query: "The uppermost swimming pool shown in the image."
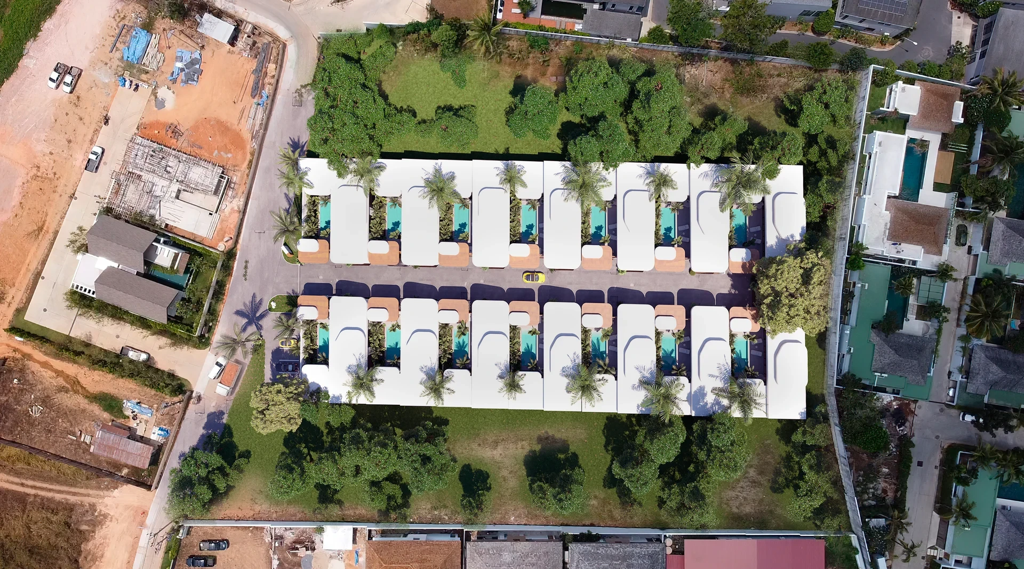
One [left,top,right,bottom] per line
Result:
[539,0,591,21]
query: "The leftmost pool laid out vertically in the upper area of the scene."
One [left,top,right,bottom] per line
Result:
[318,199,330,242]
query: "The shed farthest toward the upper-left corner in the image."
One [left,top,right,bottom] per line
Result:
[195,13,239,46]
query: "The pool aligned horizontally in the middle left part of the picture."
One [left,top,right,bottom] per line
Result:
[140,268,189,291]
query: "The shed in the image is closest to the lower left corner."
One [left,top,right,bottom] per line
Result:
[91,422,159,469]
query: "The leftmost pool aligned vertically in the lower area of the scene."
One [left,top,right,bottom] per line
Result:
[316,323,329,363]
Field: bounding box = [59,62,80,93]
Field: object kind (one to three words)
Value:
truck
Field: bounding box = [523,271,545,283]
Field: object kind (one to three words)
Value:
vehicle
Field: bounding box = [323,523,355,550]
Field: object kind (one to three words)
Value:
shed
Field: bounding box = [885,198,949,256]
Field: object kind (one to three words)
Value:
house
